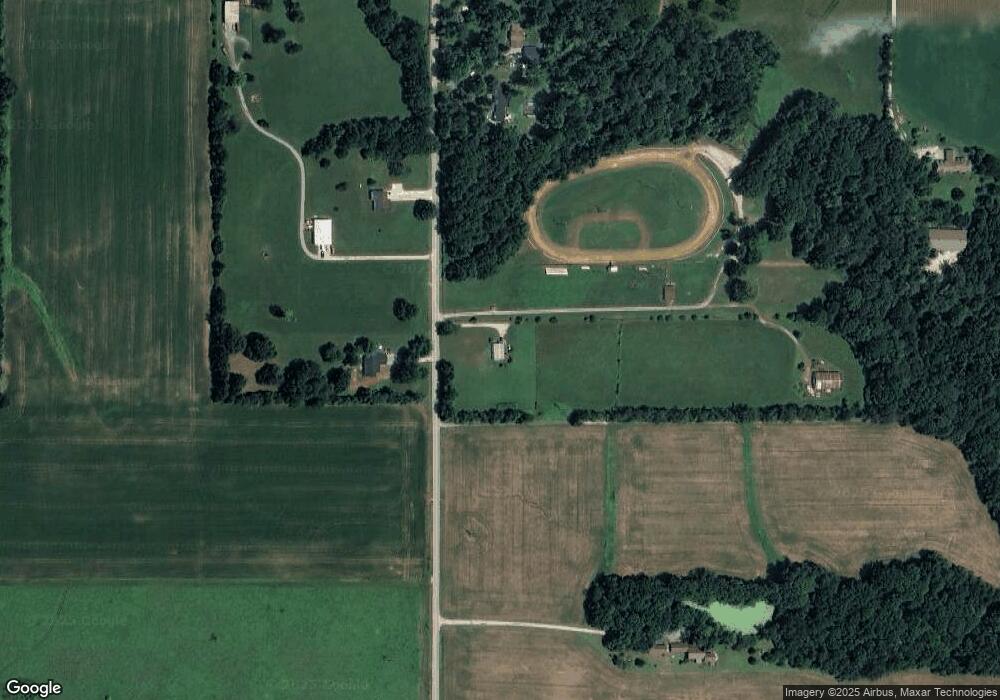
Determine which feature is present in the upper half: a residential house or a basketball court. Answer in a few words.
residential house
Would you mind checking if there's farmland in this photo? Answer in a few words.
Yes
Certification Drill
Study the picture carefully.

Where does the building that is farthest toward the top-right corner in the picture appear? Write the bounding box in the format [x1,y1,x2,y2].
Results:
[939,149,972,173]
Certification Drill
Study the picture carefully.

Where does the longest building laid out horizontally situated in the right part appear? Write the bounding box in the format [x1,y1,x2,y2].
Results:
[656,642,718,663]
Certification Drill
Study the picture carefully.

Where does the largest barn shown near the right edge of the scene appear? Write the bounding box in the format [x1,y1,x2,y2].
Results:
[930,229,969,252]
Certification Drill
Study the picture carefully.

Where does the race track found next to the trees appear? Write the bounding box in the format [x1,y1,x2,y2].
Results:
[525,147,721,265]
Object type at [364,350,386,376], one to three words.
house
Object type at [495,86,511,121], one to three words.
house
